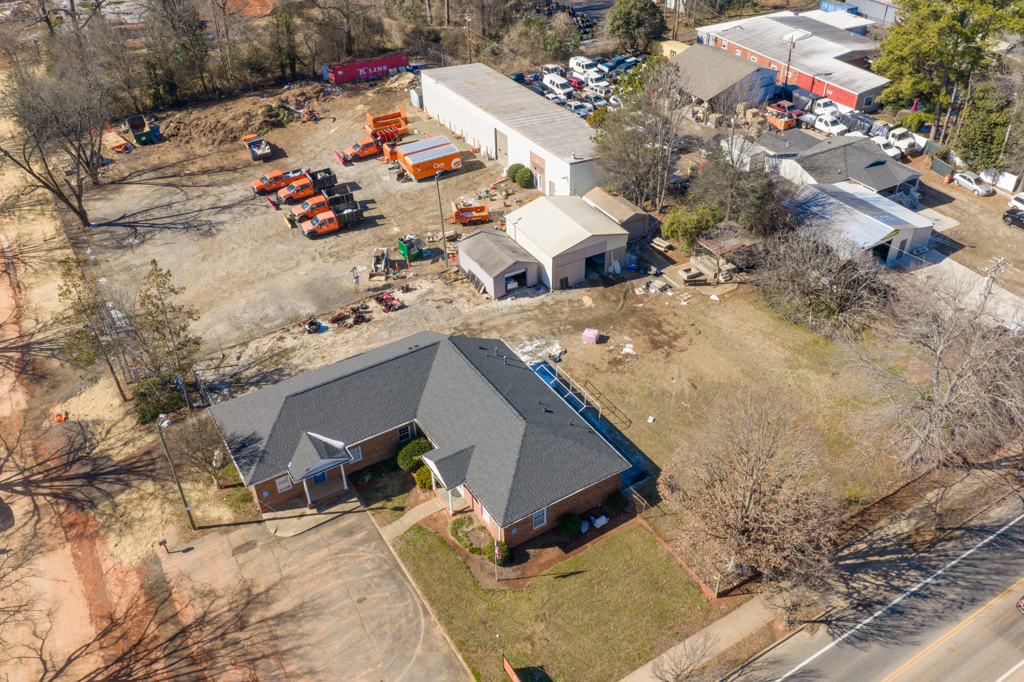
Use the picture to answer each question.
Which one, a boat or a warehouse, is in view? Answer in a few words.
warehouse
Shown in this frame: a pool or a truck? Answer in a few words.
truck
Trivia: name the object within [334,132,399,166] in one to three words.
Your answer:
truck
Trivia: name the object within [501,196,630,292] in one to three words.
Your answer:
barn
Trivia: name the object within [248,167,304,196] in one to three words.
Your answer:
truck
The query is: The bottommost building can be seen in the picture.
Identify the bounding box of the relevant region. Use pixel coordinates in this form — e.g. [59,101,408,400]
[208,331,632,545]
